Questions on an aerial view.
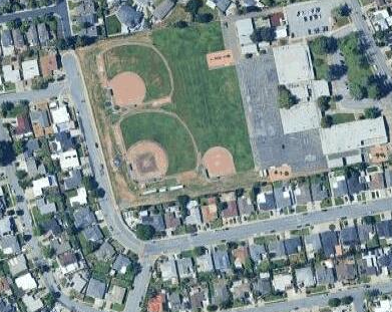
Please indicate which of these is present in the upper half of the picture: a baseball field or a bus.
baseball field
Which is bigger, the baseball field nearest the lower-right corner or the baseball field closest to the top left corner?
the baseball field closest to the top left corner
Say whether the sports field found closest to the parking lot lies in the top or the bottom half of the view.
top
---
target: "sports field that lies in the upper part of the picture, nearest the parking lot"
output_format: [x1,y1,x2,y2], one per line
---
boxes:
[179,28,248,145]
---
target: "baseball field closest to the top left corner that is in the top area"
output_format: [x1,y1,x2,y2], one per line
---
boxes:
[99,42,174,110]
